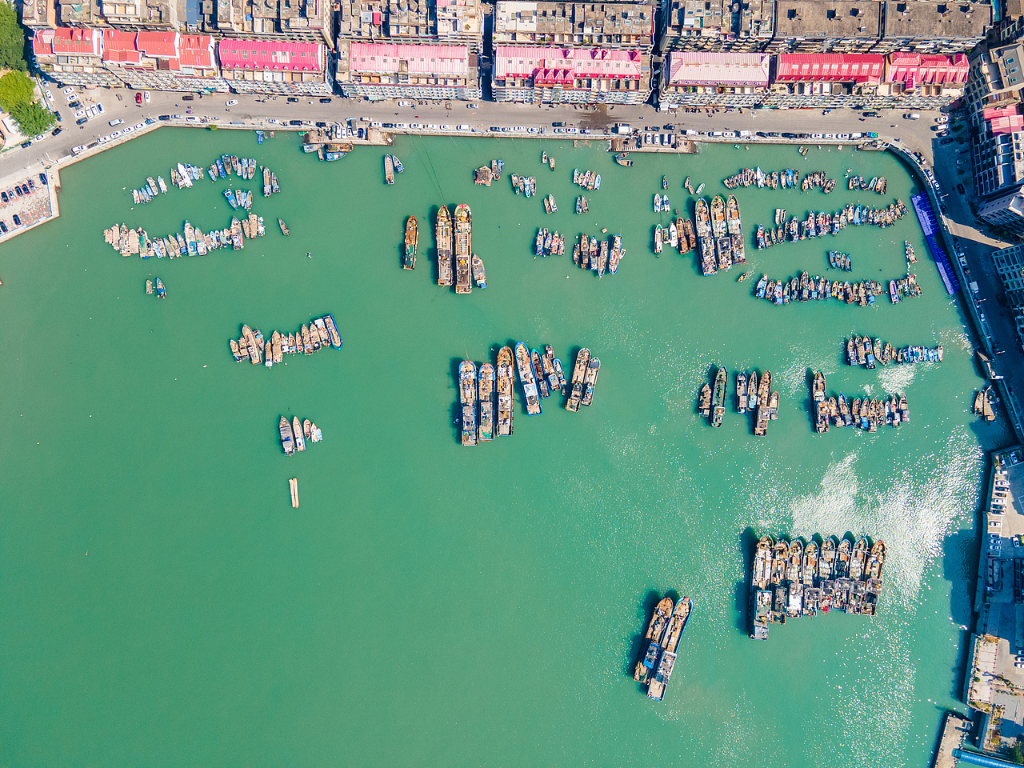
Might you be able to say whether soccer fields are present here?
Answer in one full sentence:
No, the frame has no soccer field in it.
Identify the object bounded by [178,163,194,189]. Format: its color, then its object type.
white boat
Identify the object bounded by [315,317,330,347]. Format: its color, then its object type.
white boat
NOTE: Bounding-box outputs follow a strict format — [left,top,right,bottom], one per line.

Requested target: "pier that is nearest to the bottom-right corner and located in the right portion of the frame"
[930,714,970,768]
